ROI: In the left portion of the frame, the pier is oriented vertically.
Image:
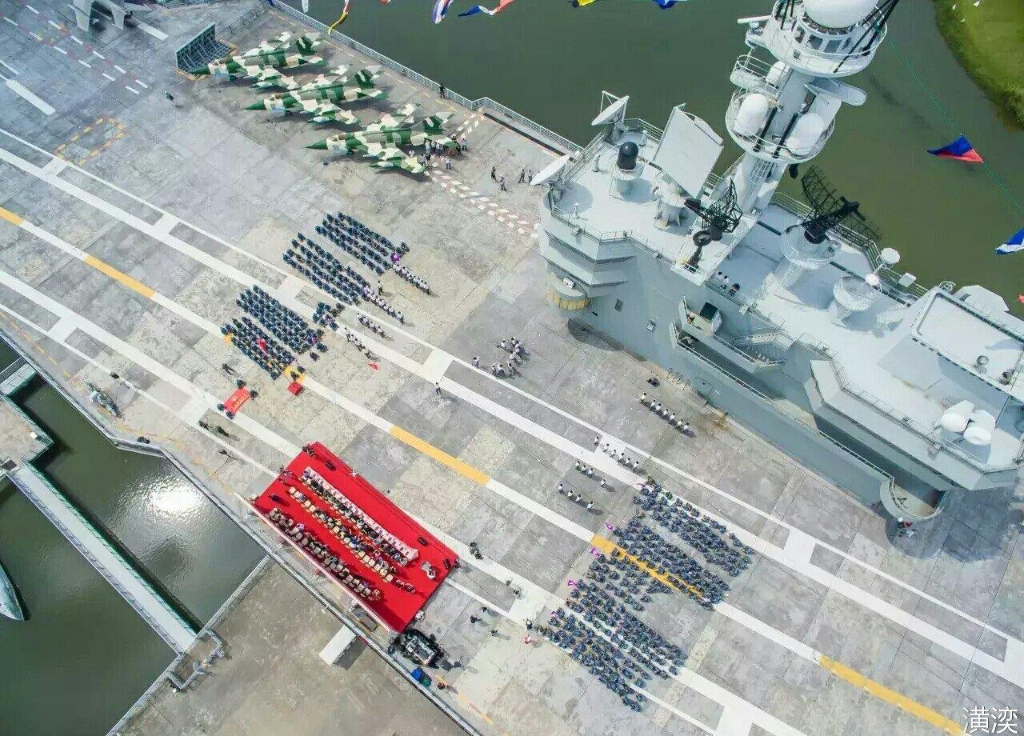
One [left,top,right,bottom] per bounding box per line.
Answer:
[0,358,66,493]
